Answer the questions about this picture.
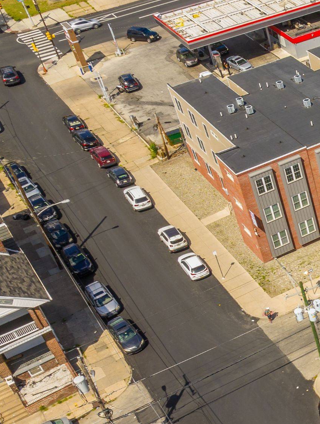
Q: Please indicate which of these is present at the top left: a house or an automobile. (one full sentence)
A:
The one visible at the top left is an automobile.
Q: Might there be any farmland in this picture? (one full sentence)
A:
No, the scene doesn't show any farmland.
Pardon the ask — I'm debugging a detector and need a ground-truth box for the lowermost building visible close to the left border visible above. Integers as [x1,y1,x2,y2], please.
[0,250,73,424]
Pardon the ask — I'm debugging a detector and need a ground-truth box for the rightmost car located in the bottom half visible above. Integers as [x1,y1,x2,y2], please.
[178,254,212,285]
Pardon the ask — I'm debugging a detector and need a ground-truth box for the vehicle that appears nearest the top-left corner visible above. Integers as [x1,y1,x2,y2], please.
[0,67,22,88]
